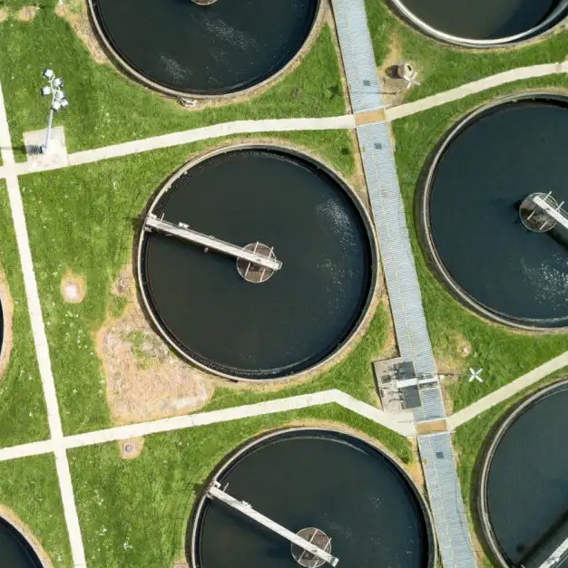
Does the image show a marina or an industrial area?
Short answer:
industrial area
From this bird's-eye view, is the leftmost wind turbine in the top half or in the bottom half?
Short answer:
top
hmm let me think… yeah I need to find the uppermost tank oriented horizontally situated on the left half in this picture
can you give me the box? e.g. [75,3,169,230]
[88,0,325,100]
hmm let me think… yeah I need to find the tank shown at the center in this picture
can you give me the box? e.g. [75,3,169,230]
[138,140,381,383]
